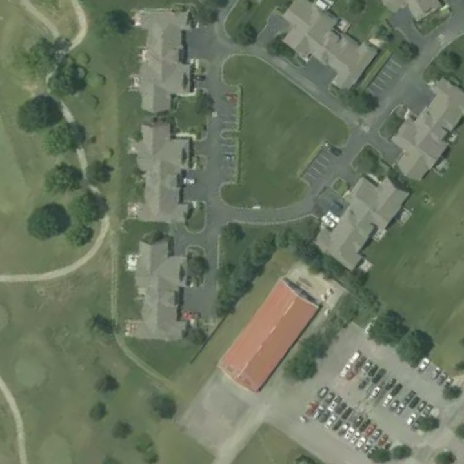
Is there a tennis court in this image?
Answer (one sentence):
No, the scene contains no tennis court.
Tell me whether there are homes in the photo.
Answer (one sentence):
Yes, the photo shows a home.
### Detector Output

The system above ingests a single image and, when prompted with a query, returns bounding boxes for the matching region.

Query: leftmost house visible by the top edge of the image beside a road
[128,10,194,116]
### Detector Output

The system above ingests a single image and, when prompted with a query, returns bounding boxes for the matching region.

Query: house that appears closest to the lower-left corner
[123,237,190,344]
